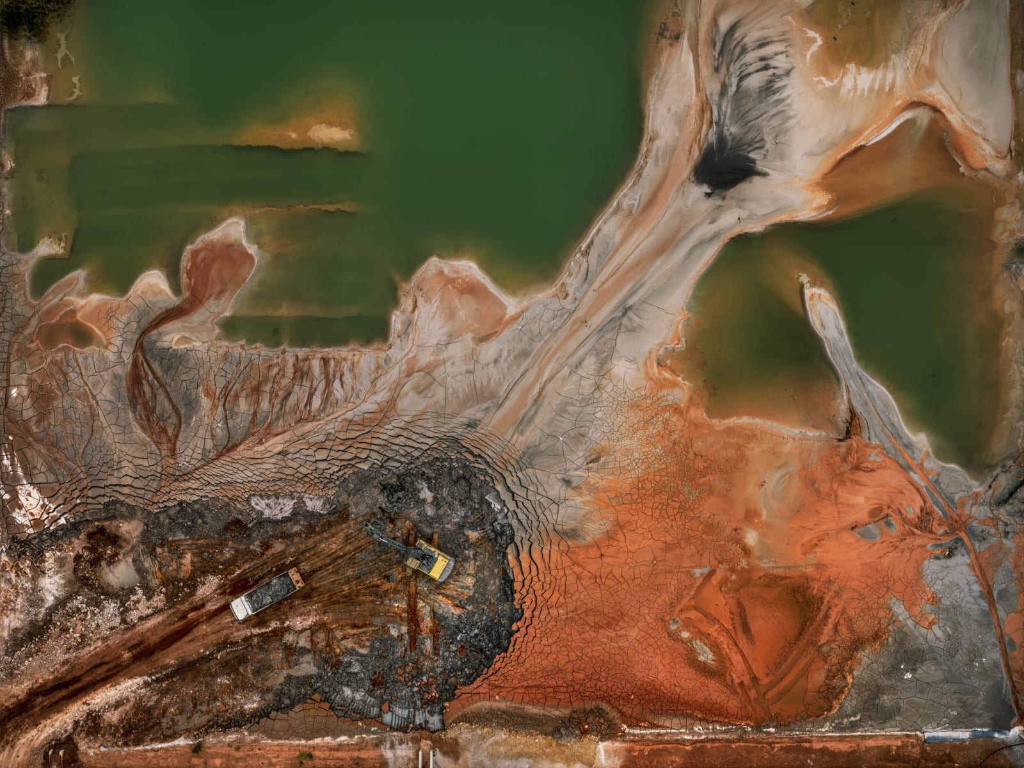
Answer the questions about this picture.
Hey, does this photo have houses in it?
No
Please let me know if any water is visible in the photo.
Yes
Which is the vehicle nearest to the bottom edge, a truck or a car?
truck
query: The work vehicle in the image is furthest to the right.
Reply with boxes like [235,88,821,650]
[362,520,453,580]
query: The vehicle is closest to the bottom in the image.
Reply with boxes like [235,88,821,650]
[232,565,306,620]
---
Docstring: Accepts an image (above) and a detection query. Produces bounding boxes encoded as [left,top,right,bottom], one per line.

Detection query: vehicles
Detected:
[362,520,453,580]
[232,565,306,620]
